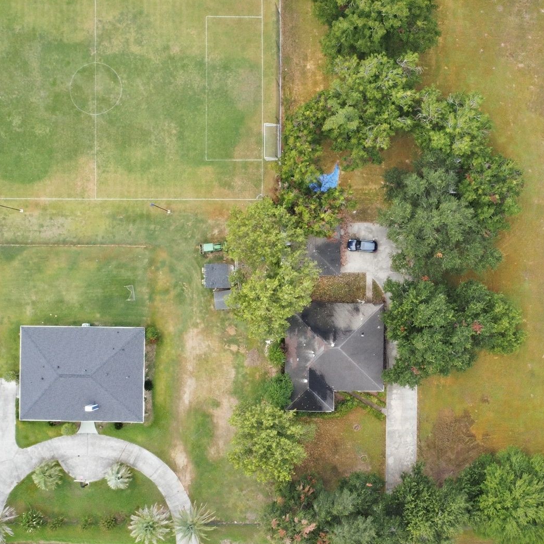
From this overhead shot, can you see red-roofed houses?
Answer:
No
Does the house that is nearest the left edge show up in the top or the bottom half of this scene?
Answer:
bottom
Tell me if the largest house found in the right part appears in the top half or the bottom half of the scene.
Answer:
bottom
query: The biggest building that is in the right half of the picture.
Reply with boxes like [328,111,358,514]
[285,303,384,411]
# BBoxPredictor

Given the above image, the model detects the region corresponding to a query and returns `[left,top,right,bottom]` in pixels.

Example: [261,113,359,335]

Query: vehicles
[203,243,230,254]
[348,239,378,252]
